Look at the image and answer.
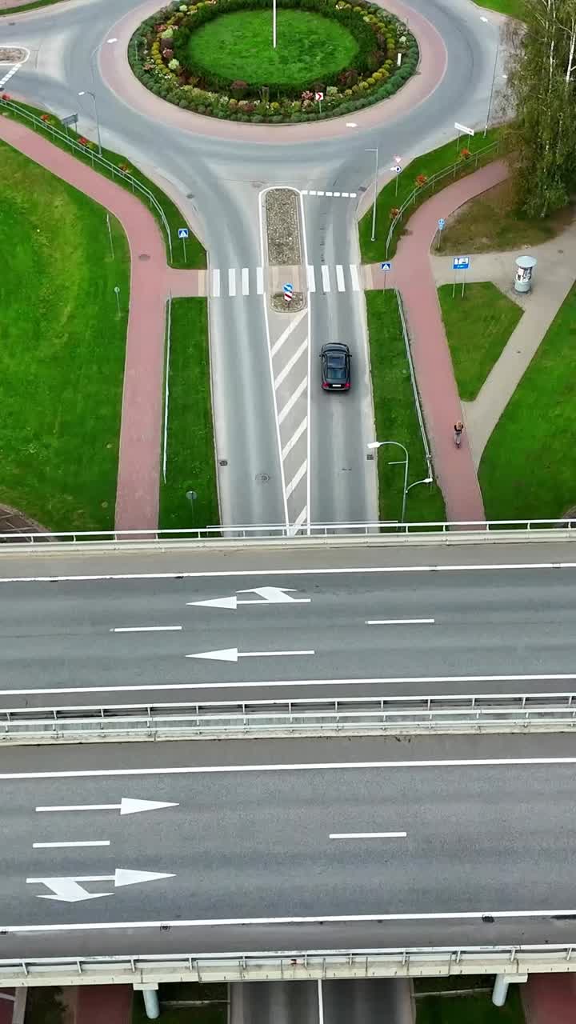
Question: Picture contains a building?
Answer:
No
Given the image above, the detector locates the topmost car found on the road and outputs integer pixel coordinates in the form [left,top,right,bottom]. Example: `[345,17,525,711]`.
[319,339,352,390]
